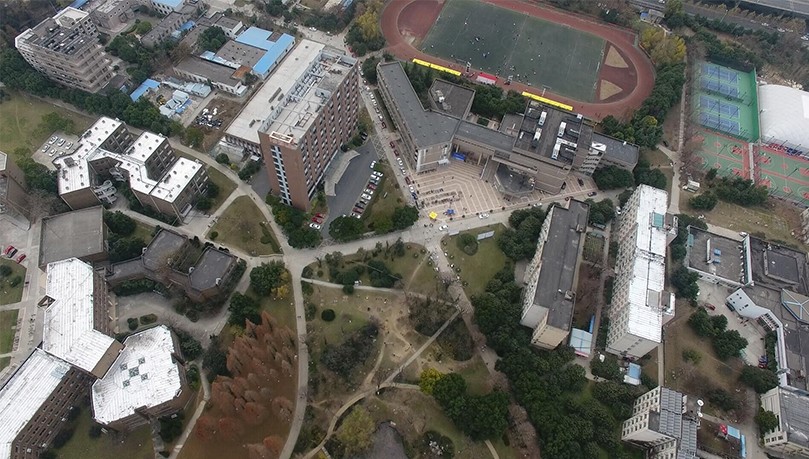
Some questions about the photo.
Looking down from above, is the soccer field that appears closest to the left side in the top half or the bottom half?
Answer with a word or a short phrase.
top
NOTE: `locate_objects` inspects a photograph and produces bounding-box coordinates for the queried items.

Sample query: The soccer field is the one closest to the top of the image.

[415,0,594,100]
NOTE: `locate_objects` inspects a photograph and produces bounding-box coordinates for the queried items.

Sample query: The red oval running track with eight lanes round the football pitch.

[383,0,653,115]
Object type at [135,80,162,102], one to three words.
shed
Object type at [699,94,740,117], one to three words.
tennis court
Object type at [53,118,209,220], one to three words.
building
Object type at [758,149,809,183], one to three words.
basketball court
